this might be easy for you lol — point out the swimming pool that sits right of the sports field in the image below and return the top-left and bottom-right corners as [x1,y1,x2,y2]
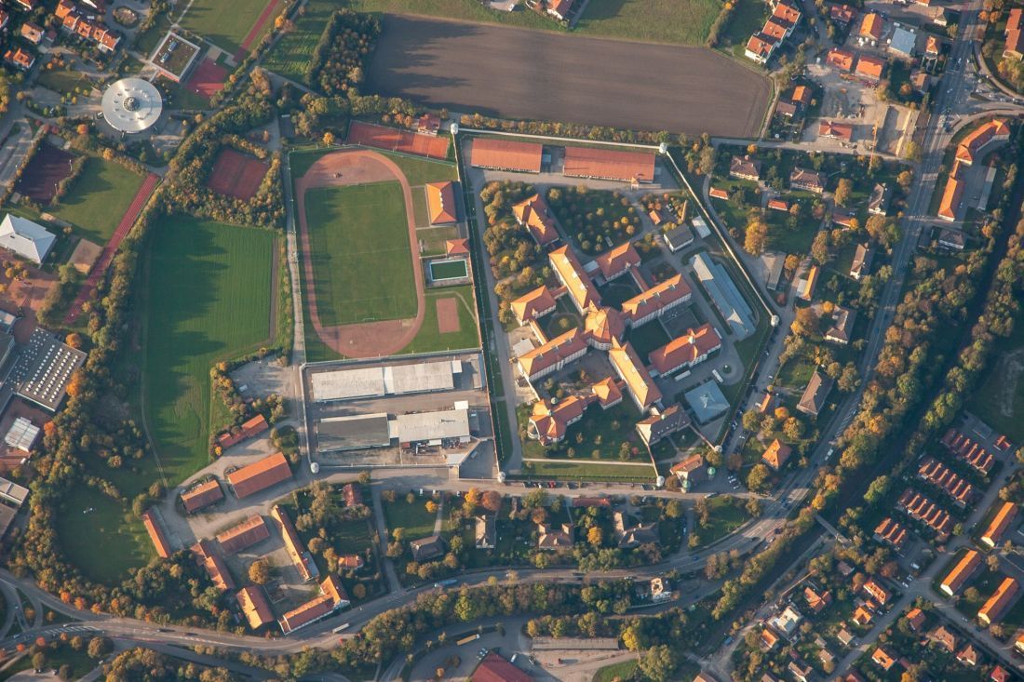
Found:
[424,253,473,288]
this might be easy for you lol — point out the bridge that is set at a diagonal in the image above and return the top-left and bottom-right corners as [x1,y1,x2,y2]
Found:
[792,502,869,563]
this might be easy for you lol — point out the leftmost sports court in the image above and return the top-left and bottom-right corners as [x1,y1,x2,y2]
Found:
[16,138,79,199]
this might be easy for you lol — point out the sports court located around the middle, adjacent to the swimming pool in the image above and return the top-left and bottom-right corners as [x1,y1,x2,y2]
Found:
[437,298,460,334]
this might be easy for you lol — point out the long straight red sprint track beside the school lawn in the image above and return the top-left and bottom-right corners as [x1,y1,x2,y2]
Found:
[64,173,160,322]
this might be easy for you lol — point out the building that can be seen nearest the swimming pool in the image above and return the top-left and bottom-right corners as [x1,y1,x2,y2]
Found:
[446,239,468,256]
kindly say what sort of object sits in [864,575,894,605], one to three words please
house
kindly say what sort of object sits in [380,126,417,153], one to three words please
tennis court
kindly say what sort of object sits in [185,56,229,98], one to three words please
sports court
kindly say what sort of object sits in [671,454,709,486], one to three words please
building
